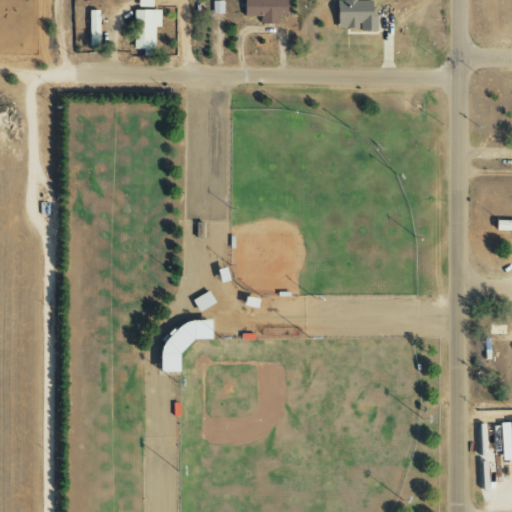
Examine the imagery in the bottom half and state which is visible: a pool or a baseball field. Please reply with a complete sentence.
Looking in the bottom half, you will find a baseball field.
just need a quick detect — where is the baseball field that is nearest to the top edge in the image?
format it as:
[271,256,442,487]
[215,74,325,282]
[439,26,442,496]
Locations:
[231,109,416,296]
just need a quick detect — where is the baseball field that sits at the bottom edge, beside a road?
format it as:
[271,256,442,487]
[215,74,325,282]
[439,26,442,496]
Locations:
[181,339,440,512]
